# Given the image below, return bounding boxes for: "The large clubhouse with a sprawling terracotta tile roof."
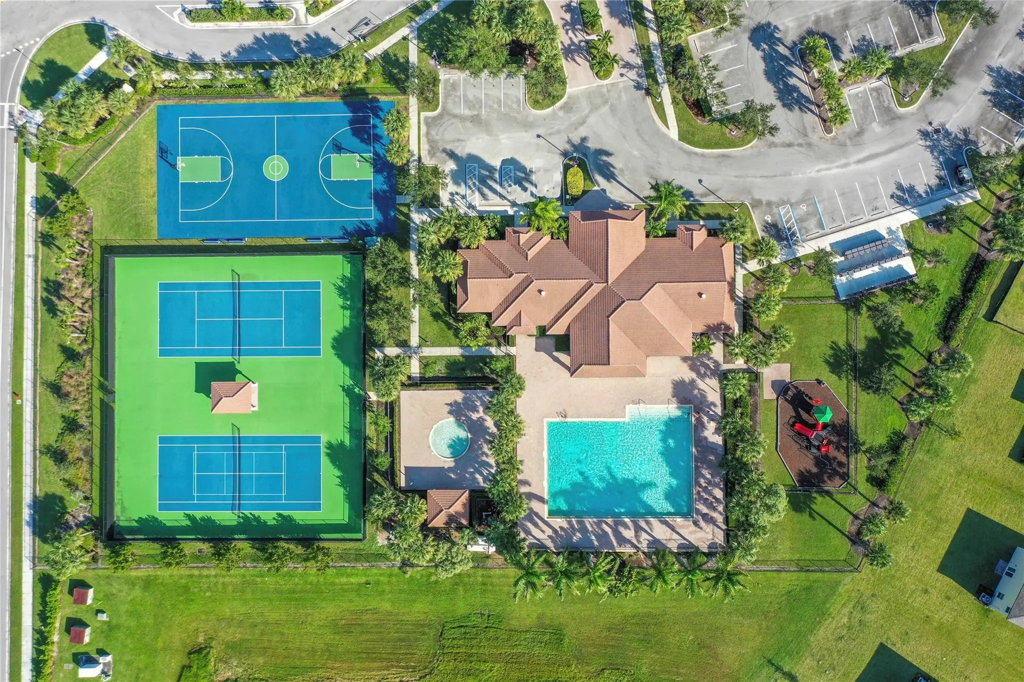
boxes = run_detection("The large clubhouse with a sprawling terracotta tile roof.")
[457,210,735,377]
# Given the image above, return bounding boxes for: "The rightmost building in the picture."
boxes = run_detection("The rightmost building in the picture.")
[988,546,1024,627]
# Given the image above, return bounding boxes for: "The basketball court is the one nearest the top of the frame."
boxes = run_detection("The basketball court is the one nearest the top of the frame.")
[157,101,396,237]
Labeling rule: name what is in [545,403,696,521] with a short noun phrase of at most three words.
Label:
swimming pool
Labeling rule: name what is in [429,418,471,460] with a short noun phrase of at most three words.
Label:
swimming pool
